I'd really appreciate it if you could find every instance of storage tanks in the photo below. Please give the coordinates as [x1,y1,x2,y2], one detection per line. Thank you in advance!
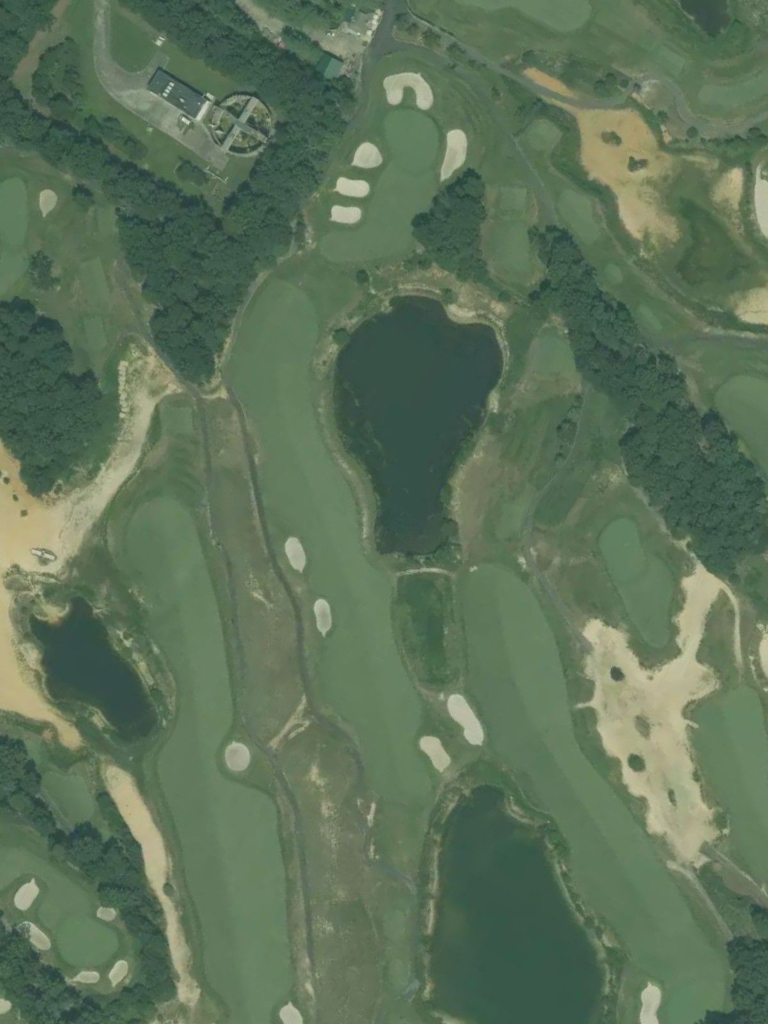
[212,94,276,155]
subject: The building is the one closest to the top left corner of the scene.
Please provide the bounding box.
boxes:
[148,70,212,124]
